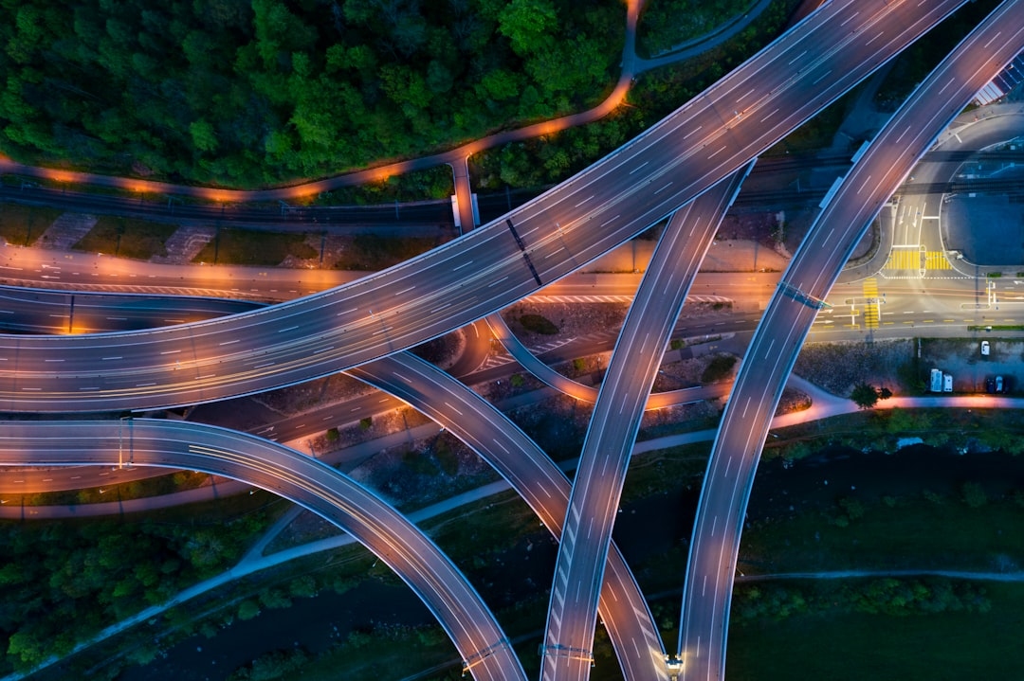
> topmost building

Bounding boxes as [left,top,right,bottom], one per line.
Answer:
[971,49,1024,113]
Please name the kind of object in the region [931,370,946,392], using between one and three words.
camper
